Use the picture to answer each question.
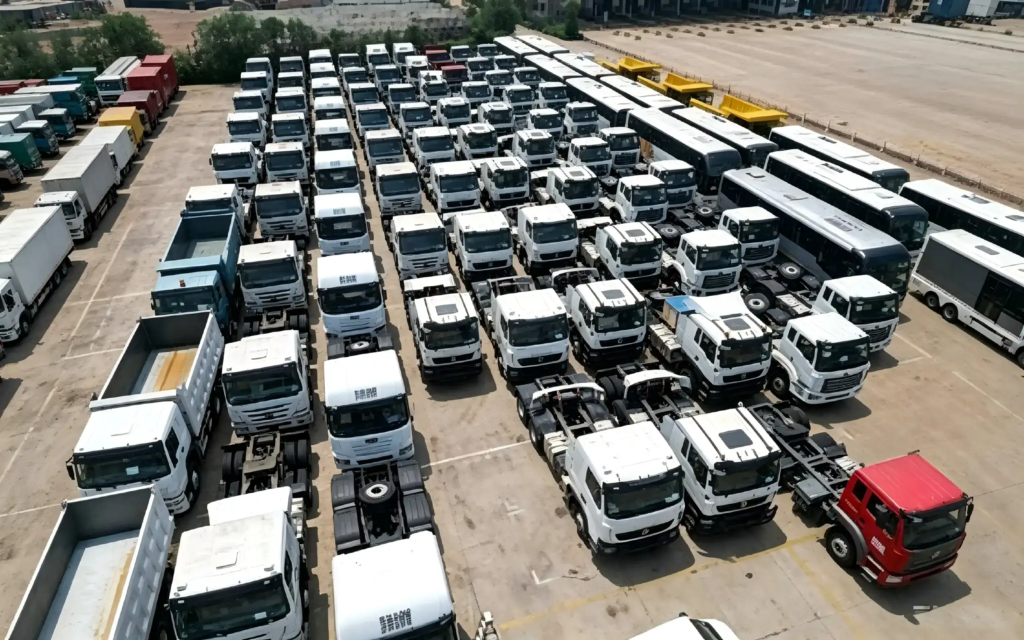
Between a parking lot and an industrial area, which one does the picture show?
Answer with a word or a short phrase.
parking lot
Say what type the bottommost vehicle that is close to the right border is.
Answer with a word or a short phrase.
truck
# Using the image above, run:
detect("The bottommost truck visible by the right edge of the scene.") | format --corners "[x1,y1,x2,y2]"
[738,399,986,584]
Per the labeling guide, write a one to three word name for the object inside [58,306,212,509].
truck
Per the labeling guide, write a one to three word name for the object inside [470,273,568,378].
truck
